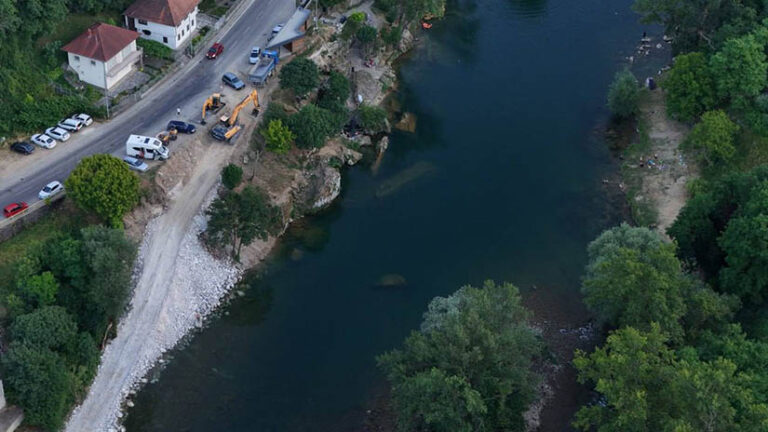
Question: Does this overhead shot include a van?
Yes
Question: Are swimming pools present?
No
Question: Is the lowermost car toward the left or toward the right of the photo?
left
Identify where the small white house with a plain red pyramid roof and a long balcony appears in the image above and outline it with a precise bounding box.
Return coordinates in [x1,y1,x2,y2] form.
[59,21,150,87]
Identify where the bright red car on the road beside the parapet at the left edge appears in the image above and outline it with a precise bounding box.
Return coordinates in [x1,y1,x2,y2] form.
[0,195,32,215]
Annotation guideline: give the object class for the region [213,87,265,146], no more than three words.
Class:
work vehicle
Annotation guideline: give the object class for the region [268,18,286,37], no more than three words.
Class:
car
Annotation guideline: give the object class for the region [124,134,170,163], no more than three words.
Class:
van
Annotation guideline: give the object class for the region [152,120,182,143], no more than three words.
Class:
truck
